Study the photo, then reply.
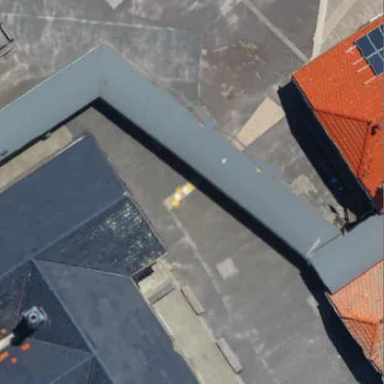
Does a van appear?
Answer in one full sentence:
No, this view has no van in it.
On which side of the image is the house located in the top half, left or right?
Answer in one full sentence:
The house located in the top half appears in the right half of the scene.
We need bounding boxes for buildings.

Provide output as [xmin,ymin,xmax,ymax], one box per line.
[326,258,384,382]
[291,19,384,209]
[0,137,203,384]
